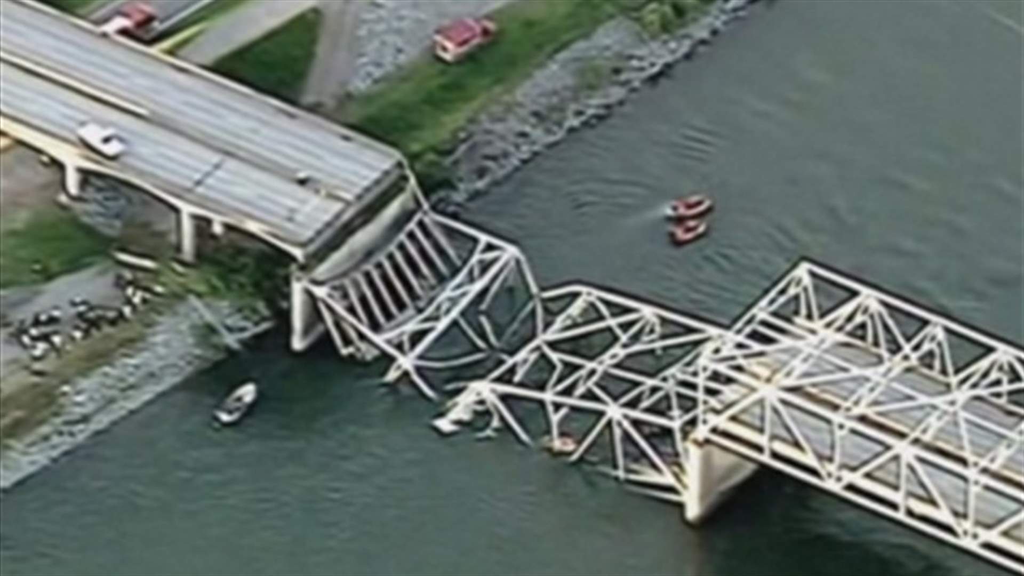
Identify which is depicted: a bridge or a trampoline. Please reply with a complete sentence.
Of the two, only a bridge appears.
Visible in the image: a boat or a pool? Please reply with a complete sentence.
I can see a boat in this picture.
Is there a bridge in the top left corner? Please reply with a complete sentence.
Yes, a bridge appears in the top left corner.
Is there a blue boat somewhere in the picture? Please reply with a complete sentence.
No, there's no blue boat here.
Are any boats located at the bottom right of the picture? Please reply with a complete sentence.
No, at the bottom right of the picture there is no boat.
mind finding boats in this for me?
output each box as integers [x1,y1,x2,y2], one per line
[208,385,256,429]
[668,221,709,244]
[668,195,716,219]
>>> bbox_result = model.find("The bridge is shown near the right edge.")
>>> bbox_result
[693,263,1024,566]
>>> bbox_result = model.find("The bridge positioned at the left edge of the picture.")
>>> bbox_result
[0,0,407,271]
